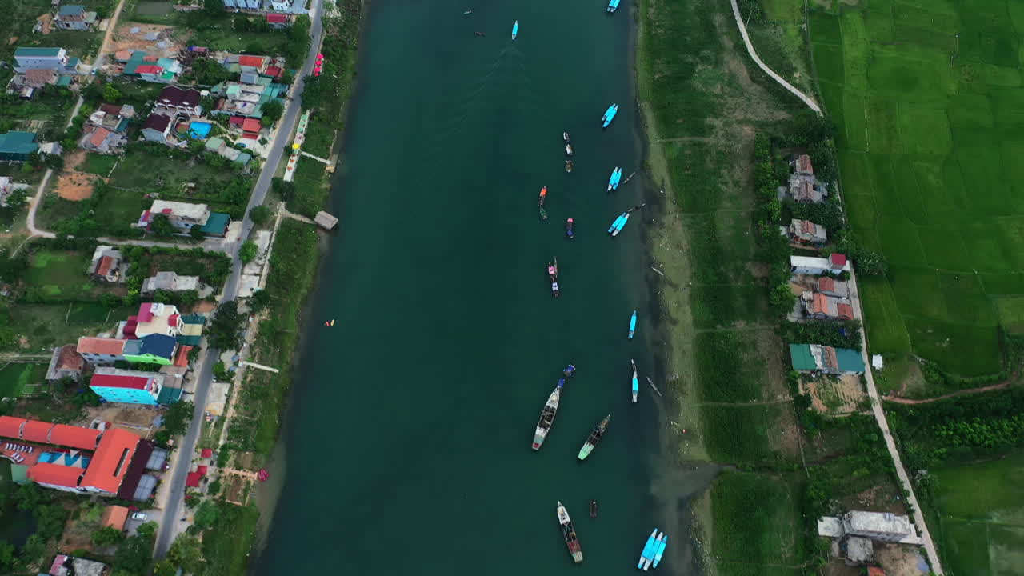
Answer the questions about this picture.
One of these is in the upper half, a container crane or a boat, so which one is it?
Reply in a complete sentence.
There is a boat in the upper half.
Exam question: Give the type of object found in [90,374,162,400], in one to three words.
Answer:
building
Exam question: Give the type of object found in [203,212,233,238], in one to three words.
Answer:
shed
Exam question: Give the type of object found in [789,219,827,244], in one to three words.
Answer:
house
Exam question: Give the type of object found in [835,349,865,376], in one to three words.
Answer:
barn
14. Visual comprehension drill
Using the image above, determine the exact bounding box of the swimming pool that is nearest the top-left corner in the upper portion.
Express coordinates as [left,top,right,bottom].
[188,121,213,140]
